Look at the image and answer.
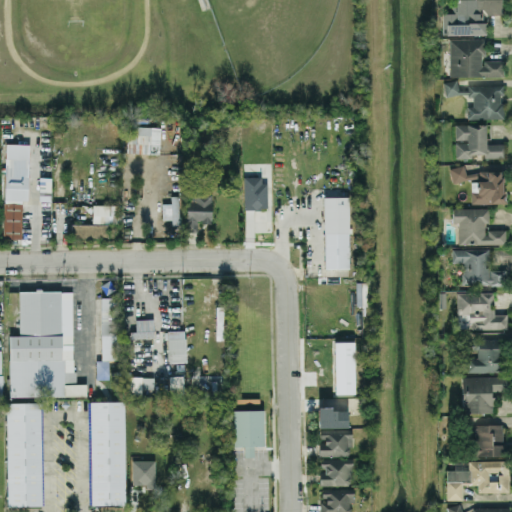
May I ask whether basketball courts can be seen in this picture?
No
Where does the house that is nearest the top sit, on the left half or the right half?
right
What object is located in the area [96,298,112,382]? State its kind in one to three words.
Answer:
shed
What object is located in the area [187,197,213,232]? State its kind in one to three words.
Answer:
house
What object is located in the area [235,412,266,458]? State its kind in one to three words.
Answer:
building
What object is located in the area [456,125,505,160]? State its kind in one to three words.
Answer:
house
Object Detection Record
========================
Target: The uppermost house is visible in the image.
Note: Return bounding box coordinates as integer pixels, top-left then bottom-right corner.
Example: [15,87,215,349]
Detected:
[444,0,504,36]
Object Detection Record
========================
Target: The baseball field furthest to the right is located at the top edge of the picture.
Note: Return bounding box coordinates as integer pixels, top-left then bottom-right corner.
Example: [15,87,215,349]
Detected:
[209,0,338,95]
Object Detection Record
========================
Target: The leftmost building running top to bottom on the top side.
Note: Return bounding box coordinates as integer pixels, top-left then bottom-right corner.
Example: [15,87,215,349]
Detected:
[4,144,30,240]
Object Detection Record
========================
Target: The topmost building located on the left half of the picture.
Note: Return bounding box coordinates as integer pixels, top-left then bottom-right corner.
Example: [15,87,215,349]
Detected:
[128,128,161,155]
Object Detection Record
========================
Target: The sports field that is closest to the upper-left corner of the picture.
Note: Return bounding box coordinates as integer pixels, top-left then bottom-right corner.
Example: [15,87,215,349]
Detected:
[11,0,144,81]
